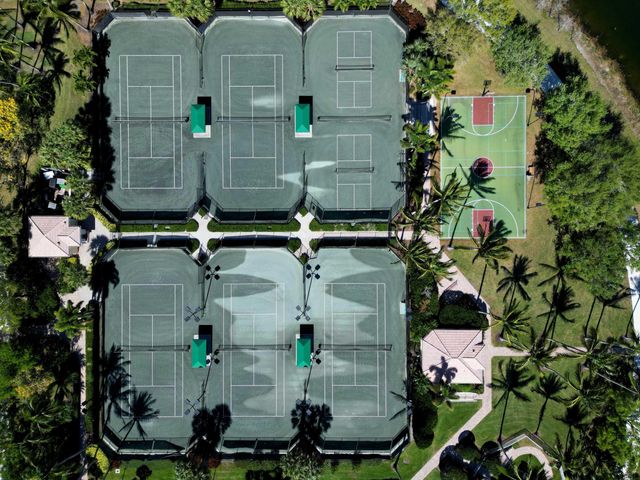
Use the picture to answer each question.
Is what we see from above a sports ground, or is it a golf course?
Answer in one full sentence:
The picture captures a sports ground.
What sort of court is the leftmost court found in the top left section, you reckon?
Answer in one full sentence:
From above, the leftmost court found in the top left section can be identified as a tennis court.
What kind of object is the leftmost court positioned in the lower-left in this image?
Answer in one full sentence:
It turns out the leftmost court positioned in the lower-left is a tennis court.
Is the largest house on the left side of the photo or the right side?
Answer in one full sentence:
It is on the right.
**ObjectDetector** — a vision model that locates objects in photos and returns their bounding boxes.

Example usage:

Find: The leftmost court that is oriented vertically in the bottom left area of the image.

[102,248,203,454]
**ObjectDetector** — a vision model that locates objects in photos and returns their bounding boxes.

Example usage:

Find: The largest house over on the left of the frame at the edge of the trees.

[24,216,87,257]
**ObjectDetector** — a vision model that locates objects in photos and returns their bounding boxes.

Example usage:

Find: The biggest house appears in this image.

[419,329,486,384]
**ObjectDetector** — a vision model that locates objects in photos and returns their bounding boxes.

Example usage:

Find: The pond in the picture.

[566,0,640,96]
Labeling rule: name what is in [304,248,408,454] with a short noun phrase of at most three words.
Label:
tennis court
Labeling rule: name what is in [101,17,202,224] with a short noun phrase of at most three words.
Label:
tennis court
